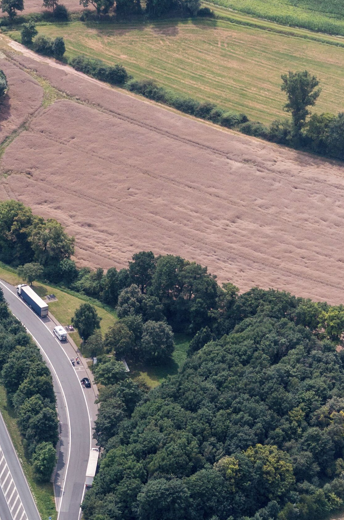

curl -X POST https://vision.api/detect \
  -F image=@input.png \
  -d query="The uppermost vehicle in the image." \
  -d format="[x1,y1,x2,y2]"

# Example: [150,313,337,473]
[13,283,48,316]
